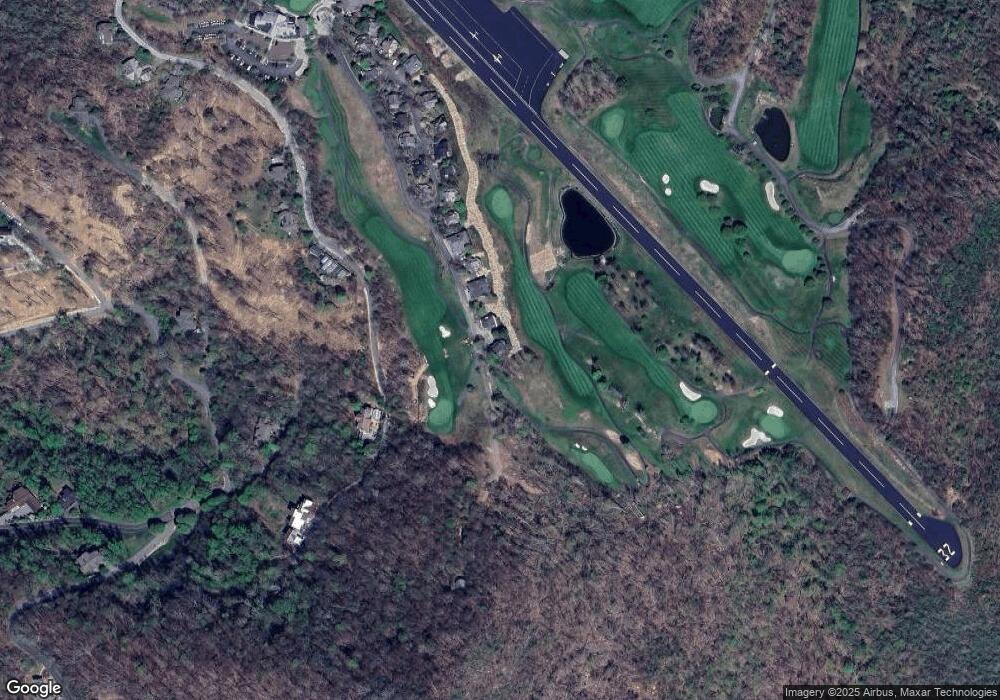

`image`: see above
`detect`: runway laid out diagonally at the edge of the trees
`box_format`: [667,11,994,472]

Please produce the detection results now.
[404,0,962,568]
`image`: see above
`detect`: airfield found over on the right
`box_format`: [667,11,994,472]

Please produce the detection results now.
[404,0,962,568]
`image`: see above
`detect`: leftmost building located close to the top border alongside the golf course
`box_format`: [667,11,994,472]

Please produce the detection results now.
[253,9,297,40]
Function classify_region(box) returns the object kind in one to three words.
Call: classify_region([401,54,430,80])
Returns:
house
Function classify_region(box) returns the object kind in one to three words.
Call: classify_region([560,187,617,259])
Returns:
pond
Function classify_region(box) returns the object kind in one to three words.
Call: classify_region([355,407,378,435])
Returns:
house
